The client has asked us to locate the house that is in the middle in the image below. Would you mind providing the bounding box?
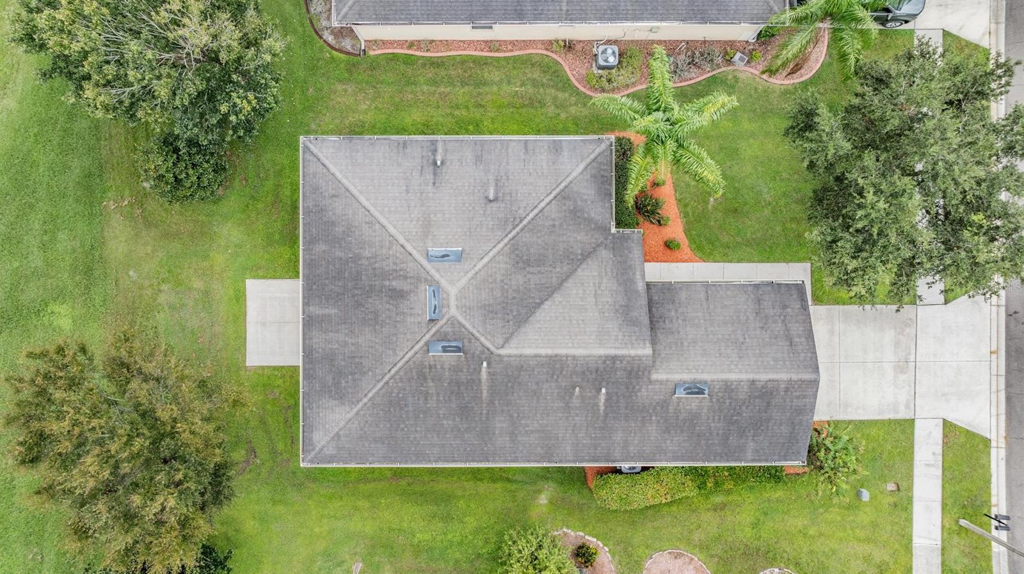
[301,136,823,466]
